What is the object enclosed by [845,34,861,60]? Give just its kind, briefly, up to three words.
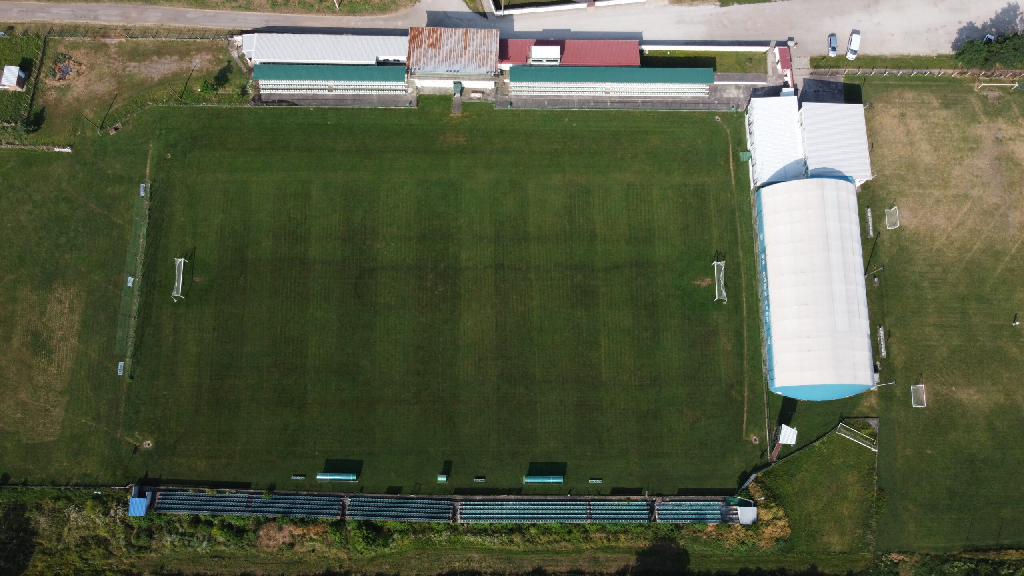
car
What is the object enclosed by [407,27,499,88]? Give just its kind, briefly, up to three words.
building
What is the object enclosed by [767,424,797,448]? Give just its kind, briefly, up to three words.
building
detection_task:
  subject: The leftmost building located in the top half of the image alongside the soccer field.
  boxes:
[252,33,409,67]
